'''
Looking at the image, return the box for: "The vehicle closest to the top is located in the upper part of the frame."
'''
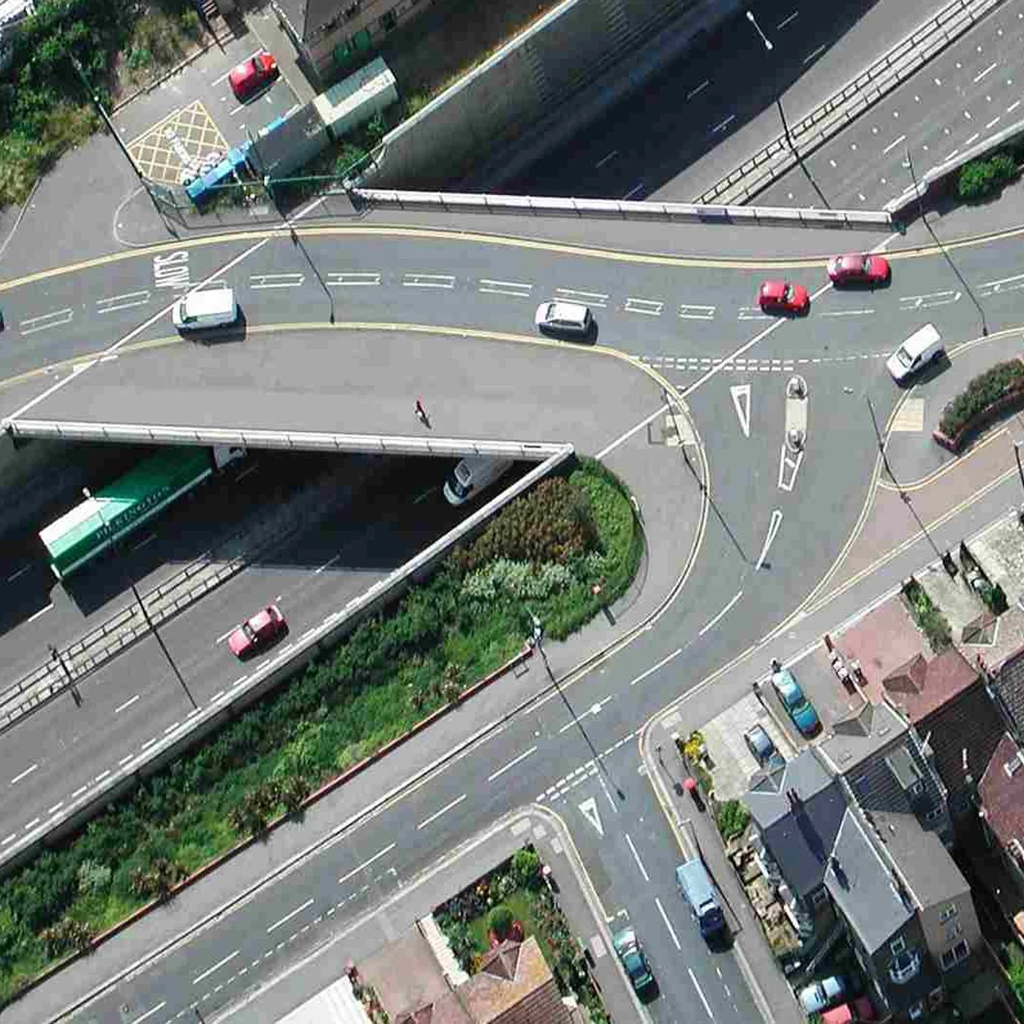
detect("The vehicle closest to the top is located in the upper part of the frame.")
[229,54,279,91]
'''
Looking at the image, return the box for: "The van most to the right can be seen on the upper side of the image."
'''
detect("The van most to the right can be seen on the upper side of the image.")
[887,327,946,381]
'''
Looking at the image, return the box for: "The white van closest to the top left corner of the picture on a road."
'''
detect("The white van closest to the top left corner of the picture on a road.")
[176,296,238,331]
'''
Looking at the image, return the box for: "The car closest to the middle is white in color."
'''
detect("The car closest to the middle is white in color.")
[536,305,593,336]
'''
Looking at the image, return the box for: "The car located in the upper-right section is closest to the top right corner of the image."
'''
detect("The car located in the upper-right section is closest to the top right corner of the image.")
[828,258,889,287]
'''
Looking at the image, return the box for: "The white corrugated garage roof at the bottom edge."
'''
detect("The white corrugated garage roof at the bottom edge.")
[276,975,375,1024]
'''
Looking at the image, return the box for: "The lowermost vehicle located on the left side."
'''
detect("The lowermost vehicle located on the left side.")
[227,612,286,659]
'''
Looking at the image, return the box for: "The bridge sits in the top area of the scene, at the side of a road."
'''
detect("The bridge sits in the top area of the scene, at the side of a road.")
[5,184,901,473]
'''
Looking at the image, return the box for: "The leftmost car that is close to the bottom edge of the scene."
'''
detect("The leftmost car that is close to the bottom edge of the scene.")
[611,933,655,995]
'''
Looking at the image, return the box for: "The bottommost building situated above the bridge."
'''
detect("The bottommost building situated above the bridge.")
[314,62,403,161]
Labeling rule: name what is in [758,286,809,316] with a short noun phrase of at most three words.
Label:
car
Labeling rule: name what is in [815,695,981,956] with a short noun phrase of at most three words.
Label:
house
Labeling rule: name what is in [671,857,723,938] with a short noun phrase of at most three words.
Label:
van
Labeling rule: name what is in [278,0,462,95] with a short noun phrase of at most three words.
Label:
building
